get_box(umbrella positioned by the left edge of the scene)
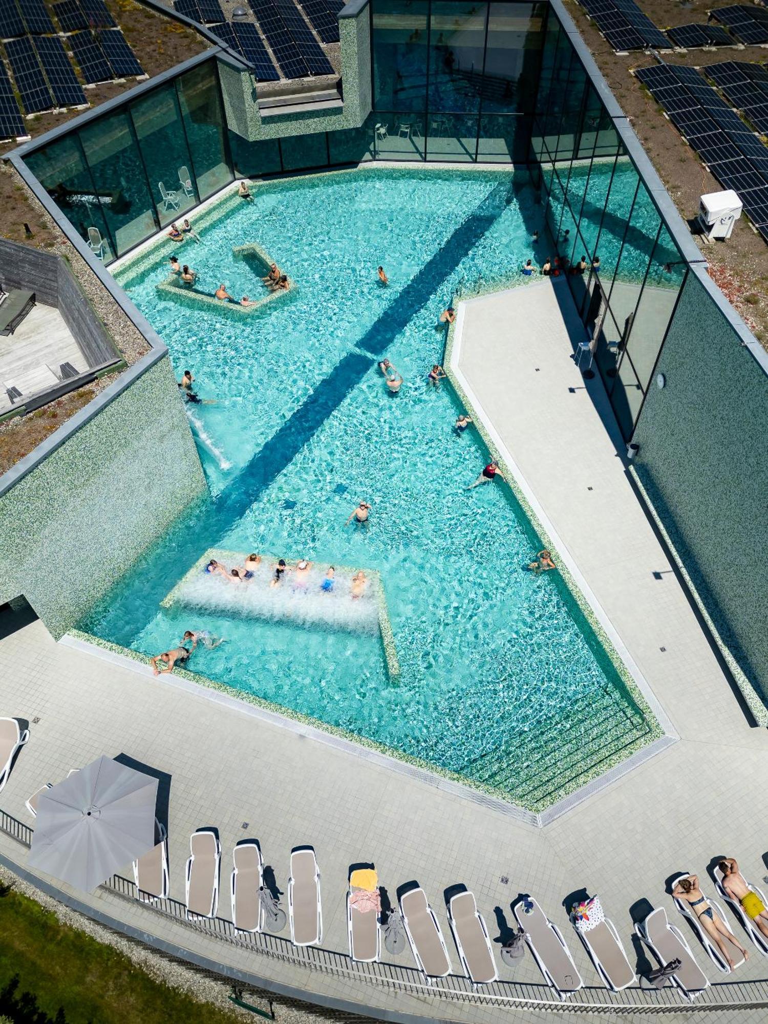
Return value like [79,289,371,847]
[29,755,159,893]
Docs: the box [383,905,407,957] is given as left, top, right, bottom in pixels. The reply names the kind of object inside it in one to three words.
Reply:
umbrella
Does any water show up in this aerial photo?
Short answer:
Yes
